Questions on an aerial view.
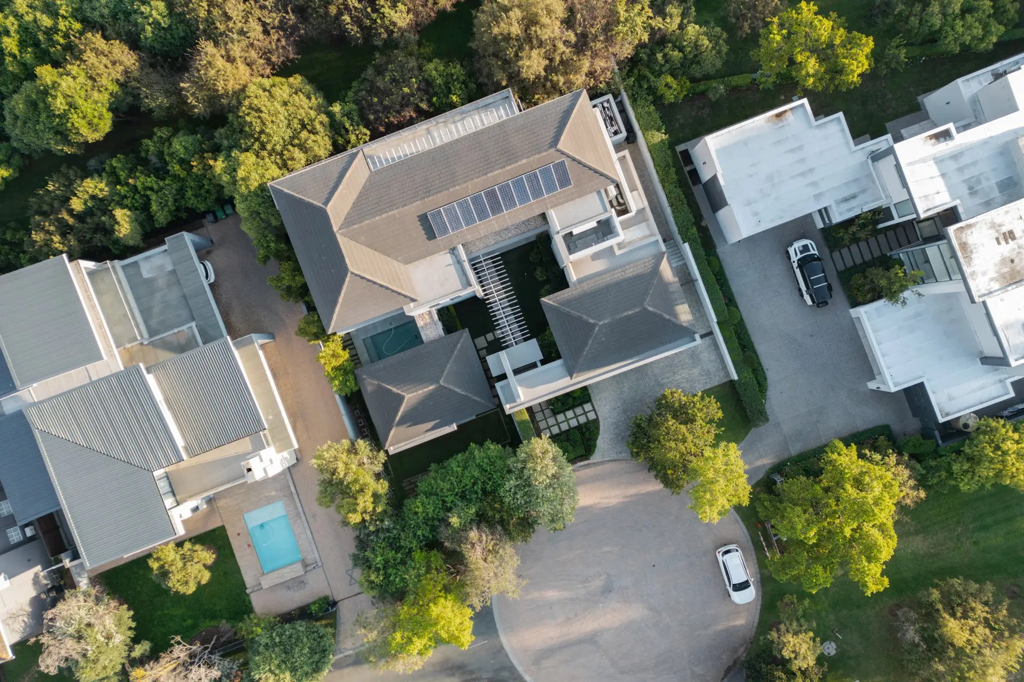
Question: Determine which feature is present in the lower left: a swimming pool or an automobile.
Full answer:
Visible in the lower left is a swimming pool.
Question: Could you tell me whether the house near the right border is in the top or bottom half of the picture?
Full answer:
The top half of the photo is where the house near the right border is.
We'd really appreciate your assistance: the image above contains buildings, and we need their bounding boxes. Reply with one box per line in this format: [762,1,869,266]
[679,53,1024,423]
[0,246,297,570]
[268,87,666,337]
[354,327,498,455]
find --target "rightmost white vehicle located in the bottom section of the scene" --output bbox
[715,543,754,605]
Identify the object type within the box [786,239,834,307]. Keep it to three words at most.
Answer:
car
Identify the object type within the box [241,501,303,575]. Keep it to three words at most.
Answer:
swimming pool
